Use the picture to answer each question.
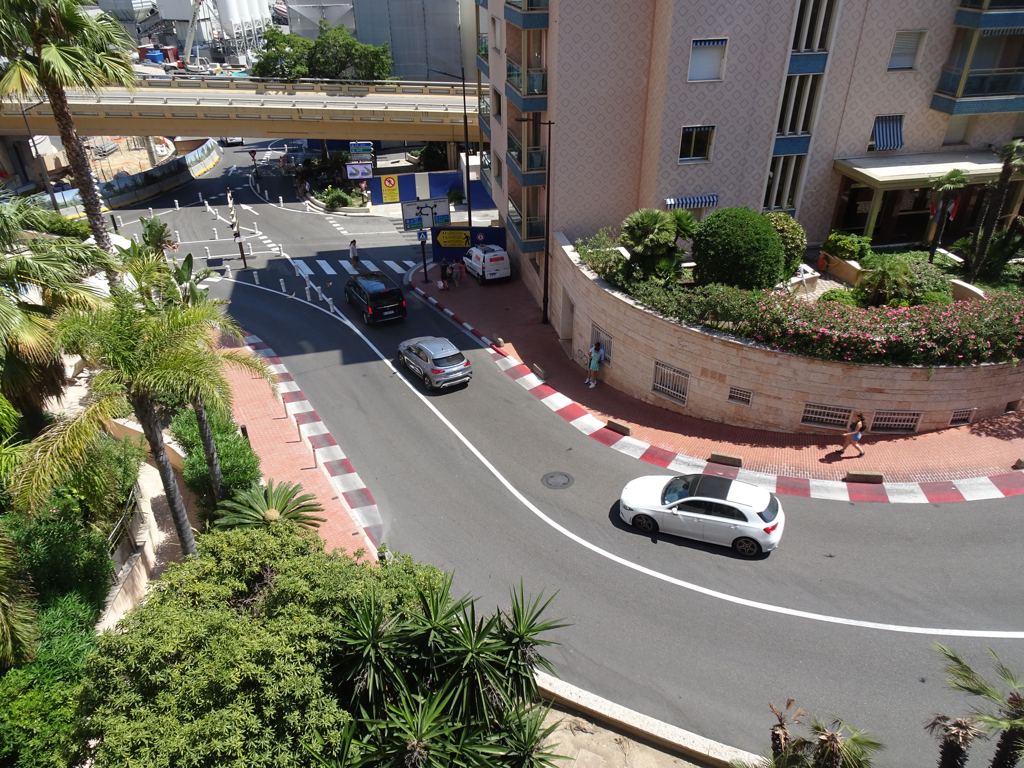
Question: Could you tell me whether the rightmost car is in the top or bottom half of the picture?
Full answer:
The rightmost car is in the bottom half of the image.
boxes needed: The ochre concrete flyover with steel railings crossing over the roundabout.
[0,68,488,178]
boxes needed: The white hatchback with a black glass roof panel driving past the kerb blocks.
[619,471,791,557]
